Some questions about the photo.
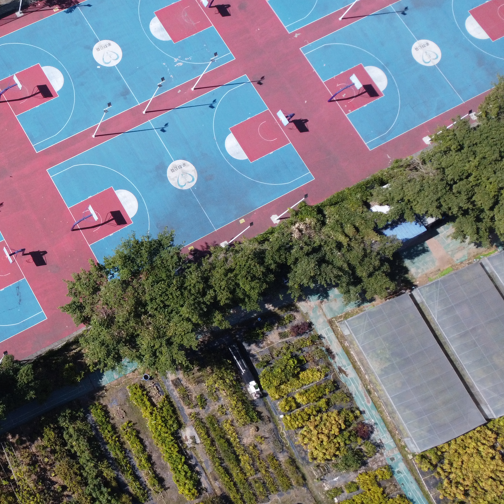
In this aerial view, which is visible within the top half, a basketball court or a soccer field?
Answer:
basketball court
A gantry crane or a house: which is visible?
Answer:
house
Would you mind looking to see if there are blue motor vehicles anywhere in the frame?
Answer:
No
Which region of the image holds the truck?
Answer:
bottom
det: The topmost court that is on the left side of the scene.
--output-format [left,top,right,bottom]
[0,0,235,153]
